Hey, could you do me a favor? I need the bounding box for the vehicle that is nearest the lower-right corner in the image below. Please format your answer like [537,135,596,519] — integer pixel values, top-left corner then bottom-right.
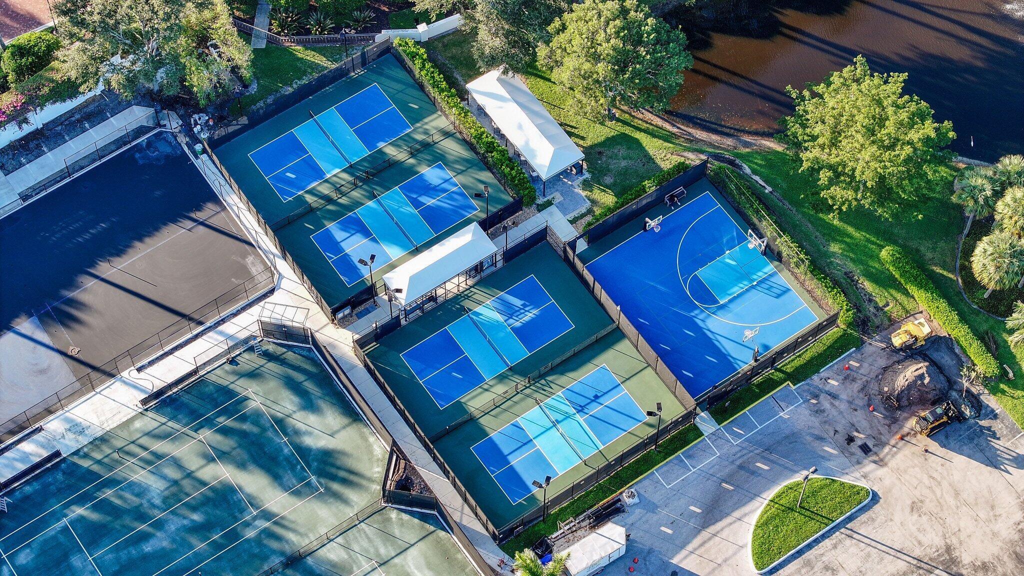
[912,403,964,442]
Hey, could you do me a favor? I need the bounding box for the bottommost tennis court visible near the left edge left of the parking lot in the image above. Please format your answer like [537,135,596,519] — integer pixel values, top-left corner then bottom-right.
[0,336,389,576]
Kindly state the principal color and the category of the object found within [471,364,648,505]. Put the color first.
blue sports court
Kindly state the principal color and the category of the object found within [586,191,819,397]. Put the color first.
blue basketball court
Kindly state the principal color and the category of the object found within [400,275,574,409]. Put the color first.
blue sports court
